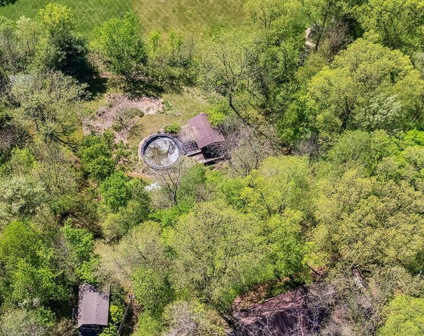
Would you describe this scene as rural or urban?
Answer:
rural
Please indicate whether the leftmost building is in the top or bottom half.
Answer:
bottom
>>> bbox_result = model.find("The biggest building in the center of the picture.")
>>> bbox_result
[188,114,225,155]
